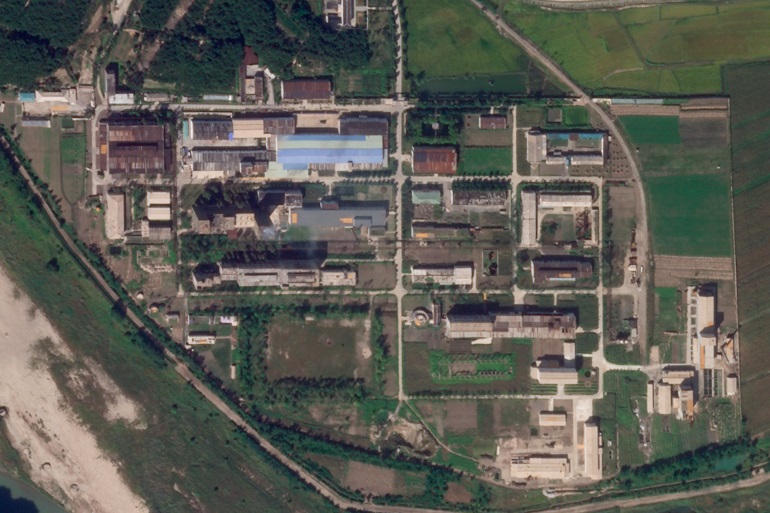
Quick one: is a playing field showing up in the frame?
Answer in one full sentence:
Yes, you can see a playing field in this photo.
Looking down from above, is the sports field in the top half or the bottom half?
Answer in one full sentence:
The sports field sits in the bottom half of the picture.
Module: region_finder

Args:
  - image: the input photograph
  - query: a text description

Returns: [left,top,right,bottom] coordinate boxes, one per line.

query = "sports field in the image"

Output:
[266,317,372,381]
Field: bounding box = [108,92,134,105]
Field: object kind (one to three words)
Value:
building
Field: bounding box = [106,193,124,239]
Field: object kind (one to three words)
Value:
house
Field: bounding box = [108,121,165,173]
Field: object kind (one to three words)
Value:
building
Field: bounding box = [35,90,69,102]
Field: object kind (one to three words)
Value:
house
